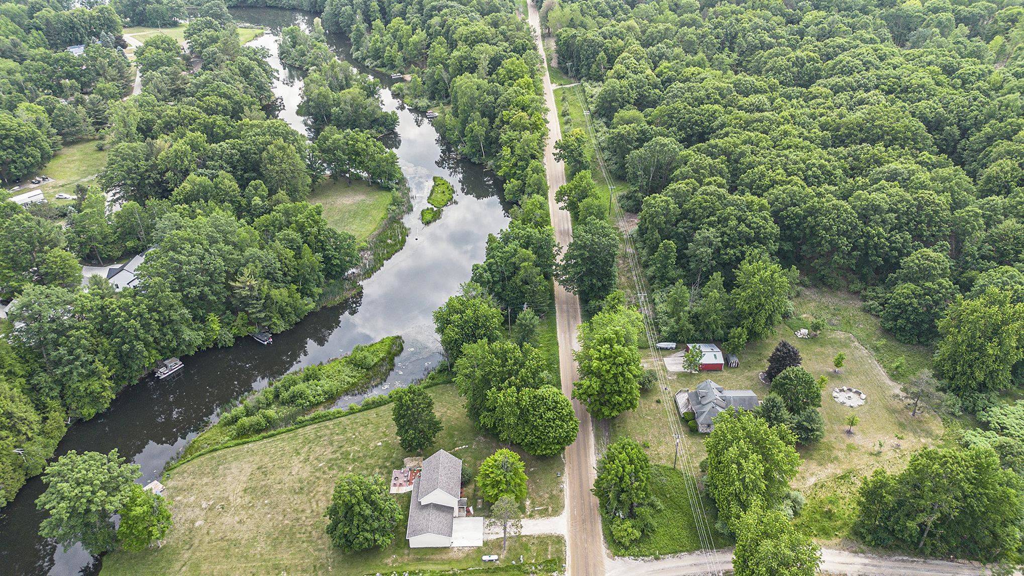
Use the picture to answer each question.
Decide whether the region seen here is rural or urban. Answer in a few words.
rural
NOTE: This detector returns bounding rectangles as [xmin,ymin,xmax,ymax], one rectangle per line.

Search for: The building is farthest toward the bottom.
[406,447,468,547]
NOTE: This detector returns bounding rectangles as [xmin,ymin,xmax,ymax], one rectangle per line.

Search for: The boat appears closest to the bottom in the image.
[153,358,185,380]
